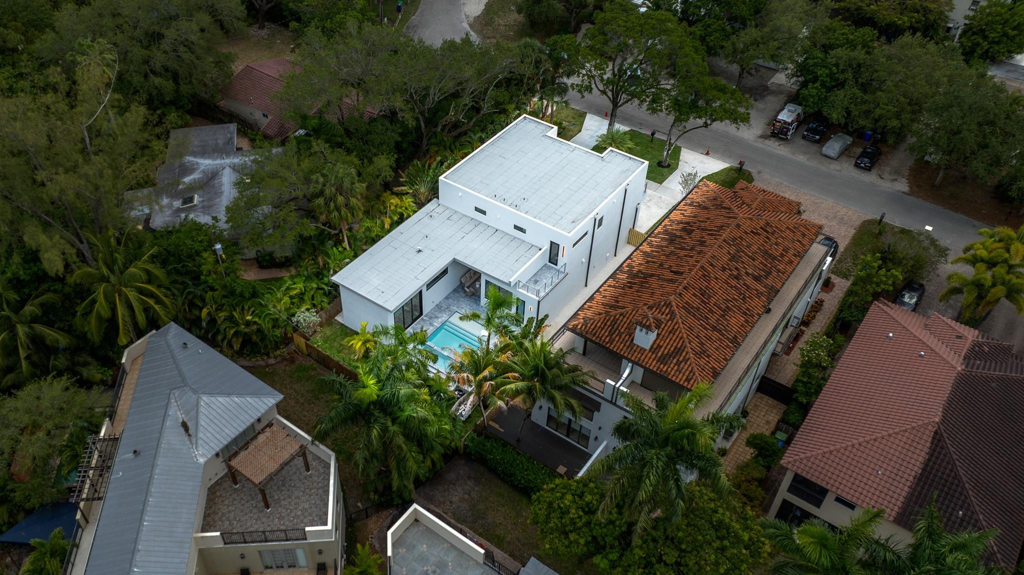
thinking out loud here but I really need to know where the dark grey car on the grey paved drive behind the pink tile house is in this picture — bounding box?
[893,278,927,315]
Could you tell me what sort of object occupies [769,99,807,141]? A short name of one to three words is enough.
van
